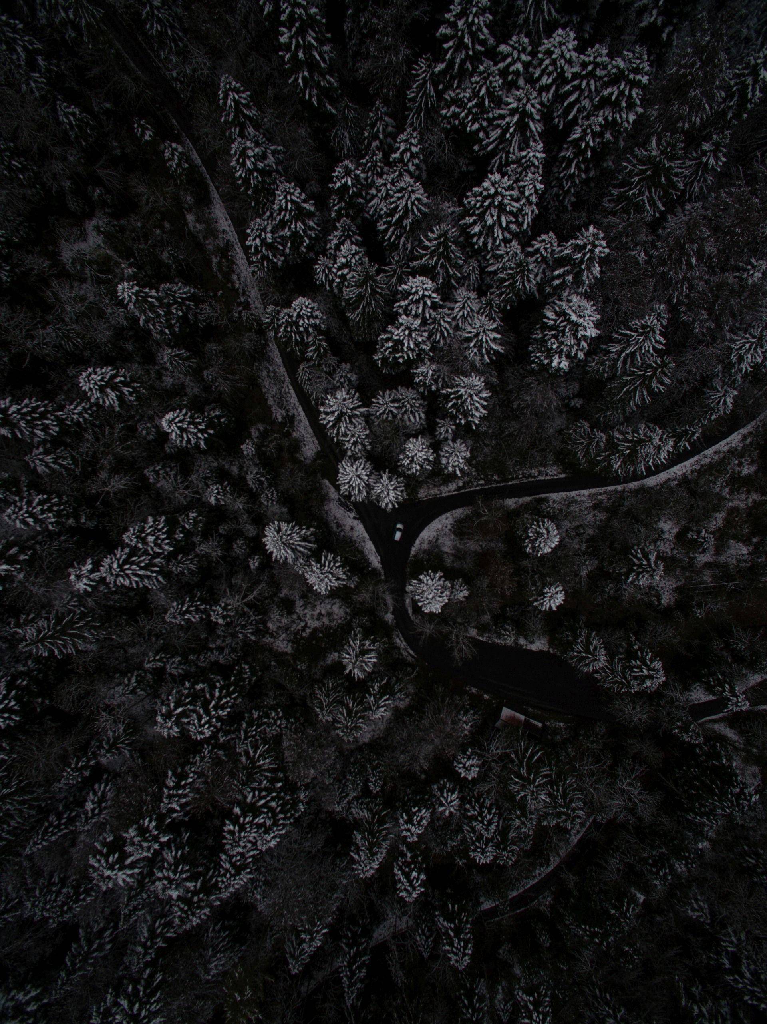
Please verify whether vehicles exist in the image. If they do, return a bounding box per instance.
[393,522,405,542]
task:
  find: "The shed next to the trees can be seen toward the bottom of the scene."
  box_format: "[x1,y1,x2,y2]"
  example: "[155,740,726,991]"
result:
[495,706,541,743]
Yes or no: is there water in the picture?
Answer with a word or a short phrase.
No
